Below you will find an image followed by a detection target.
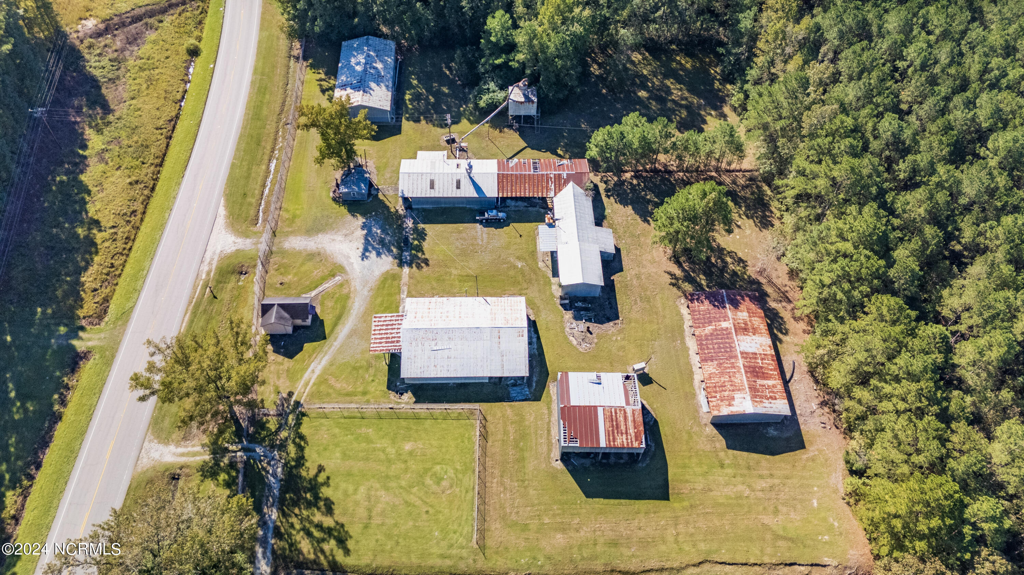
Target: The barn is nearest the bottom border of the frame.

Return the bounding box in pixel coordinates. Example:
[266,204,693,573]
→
[557,373,645,460]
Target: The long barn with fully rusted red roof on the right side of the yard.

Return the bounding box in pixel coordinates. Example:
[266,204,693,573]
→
[685,290,791,422]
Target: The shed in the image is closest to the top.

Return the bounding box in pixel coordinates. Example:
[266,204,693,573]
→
[332,35,401,121]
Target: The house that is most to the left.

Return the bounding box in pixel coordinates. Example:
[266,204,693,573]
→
[260,297,319,334]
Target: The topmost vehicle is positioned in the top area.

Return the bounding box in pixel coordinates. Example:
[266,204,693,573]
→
[475,209,507,222]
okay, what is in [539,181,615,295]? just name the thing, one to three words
building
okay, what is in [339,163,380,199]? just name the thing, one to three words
house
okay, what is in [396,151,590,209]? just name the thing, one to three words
building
